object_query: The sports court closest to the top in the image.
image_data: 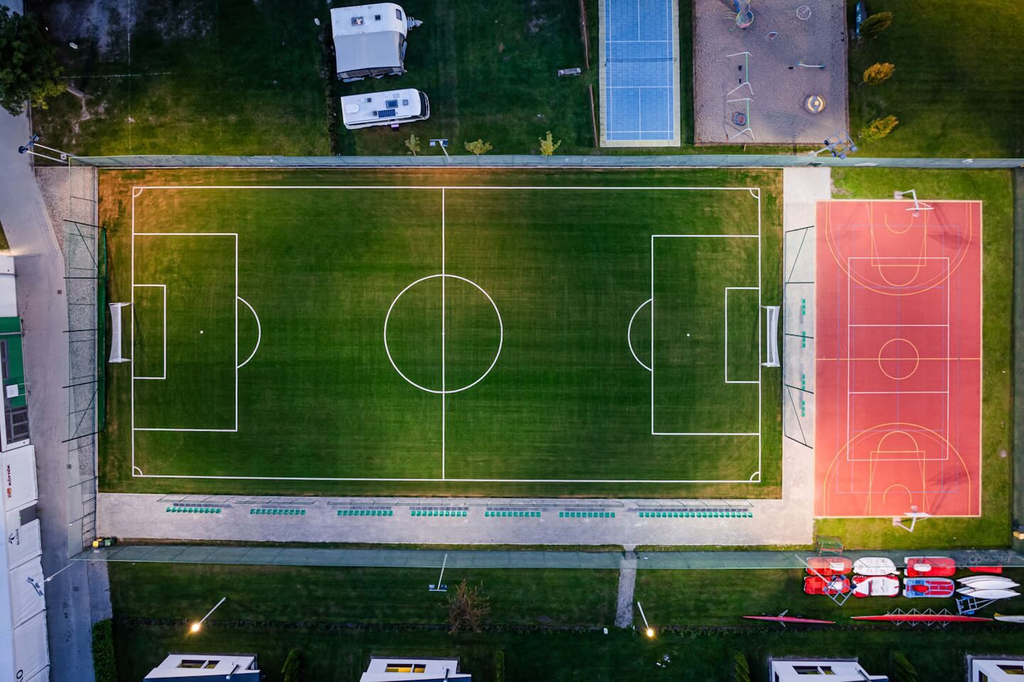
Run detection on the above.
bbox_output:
[599,0,680,146]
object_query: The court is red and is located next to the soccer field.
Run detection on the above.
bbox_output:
[816,200,982,517]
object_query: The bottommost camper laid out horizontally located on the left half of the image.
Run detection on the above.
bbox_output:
[340,88,433,131]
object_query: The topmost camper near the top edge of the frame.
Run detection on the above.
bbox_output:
[331,4,425,37]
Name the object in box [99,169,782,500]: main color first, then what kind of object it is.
green soccer field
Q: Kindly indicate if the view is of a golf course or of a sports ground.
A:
sports ground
